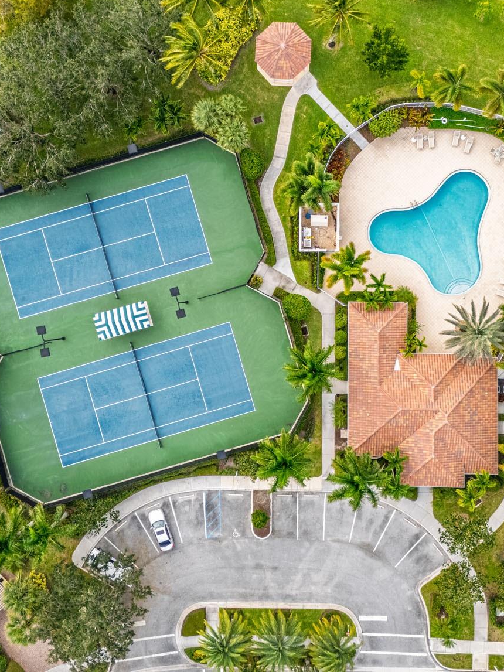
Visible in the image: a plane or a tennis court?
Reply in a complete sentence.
Of the two, only a tennis court appears.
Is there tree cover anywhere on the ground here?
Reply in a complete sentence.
Yes, the picture does contain tree cover.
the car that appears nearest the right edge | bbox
[150,509,173,551]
